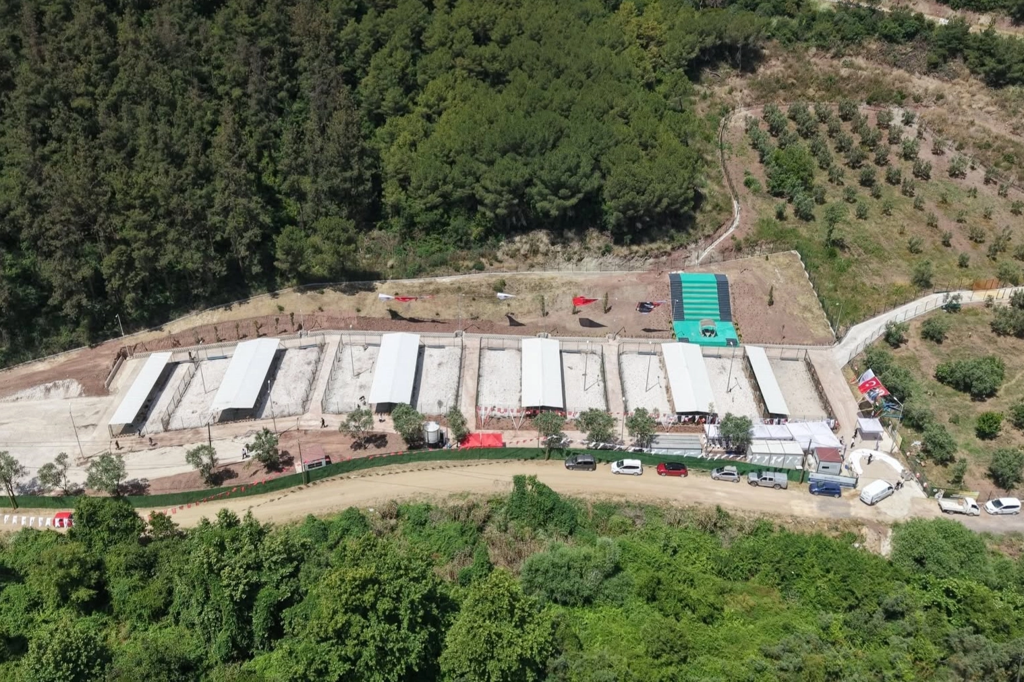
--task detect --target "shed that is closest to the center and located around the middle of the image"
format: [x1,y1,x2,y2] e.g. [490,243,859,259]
[522,337,563,423]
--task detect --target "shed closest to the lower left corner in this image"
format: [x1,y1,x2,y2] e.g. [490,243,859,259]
[109,352,175,443]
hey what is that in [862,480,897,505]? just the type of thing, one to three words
vehicle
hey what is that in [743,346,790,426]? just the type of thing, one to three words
shed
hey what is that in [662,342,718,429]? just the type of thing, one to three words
shed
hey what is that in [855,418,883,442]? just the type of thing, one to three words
tent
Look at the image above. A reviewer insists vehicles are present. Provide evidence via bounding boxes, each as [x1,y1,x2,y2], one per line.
[983,498,1024,515]
[711,465,742,483]
[610,459,643,476]
[810,481,843,498]
[746,470,786,489]
[942,497,982,516]
[565,453,597,471]
[657,461,689,477]
[862,480,897,505]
